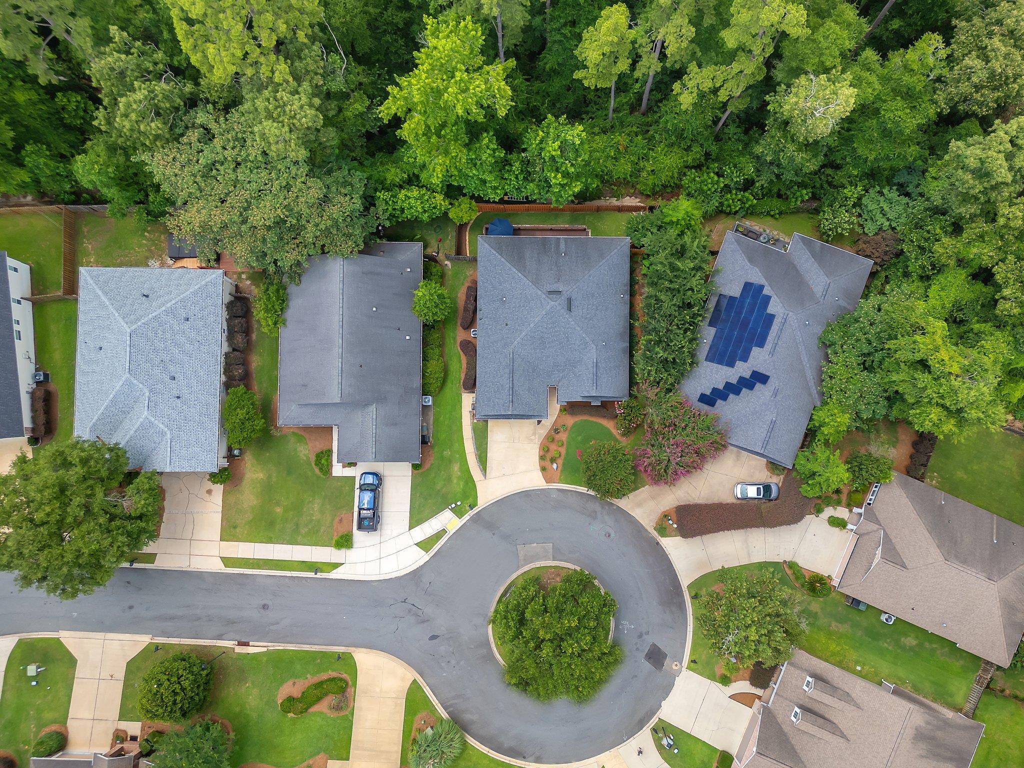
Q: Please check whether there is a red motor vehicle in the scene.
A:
No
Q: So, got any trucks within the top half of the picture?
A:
No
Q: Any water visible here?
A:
No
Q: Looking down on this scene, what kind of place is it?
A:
residential area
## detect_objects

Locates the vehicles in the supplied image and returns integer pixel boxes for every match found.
[356,471,383,534]
[733,480,779,504]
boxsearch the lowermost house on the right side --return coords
[734,647,986,768]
